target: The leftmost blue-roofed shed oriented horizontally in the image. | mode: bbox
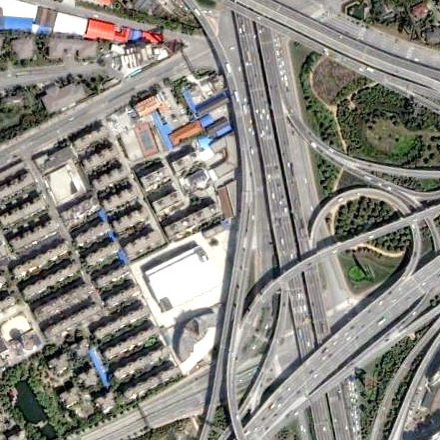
[0,17,35,33]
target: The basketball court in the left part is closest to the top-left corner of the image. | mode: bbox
[134,122,159,157]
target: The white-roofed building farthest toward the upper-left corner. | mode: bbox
[0,0,38,20]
